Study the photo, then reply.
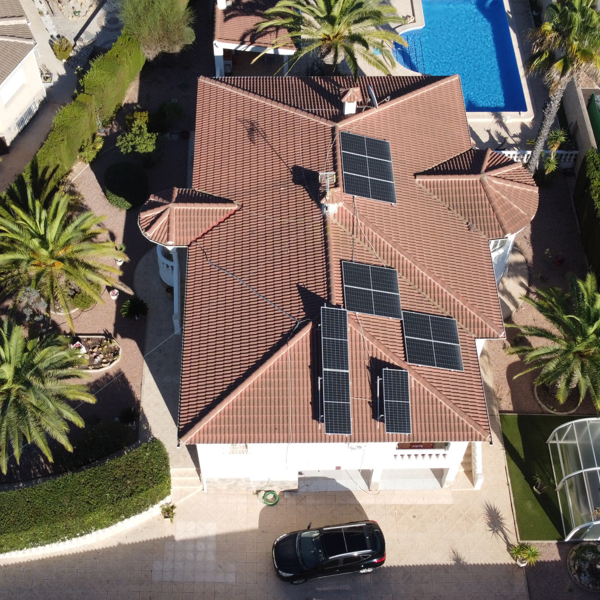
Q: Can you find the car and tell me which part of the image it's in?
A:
bottom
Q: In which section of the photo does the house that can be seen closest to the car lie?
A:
center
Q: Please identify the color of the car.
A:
black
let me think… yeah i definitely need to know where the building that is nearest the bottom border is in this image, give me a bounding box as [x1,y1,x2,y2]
[136,71,541,508]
